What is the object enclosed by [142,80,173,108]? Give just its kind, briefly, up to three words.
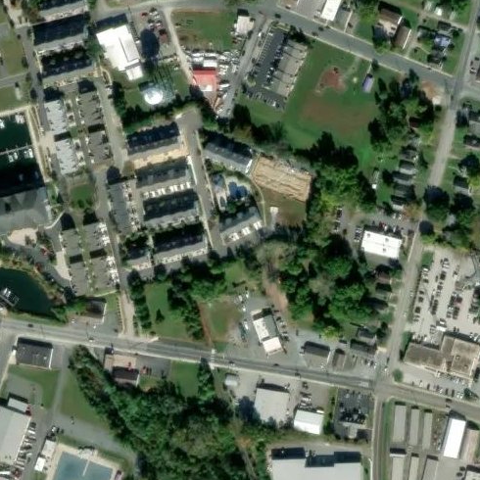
water tower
